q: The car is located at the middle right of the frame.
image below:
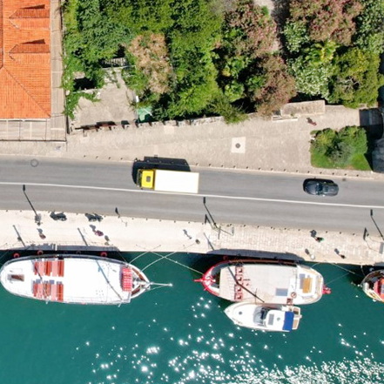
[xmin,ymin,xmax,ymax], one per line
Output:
[302,179,338,196]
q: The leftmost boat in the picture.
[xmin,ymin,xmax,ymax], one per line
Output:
[0,250,173,305]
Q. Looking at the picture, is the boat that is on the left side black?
No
